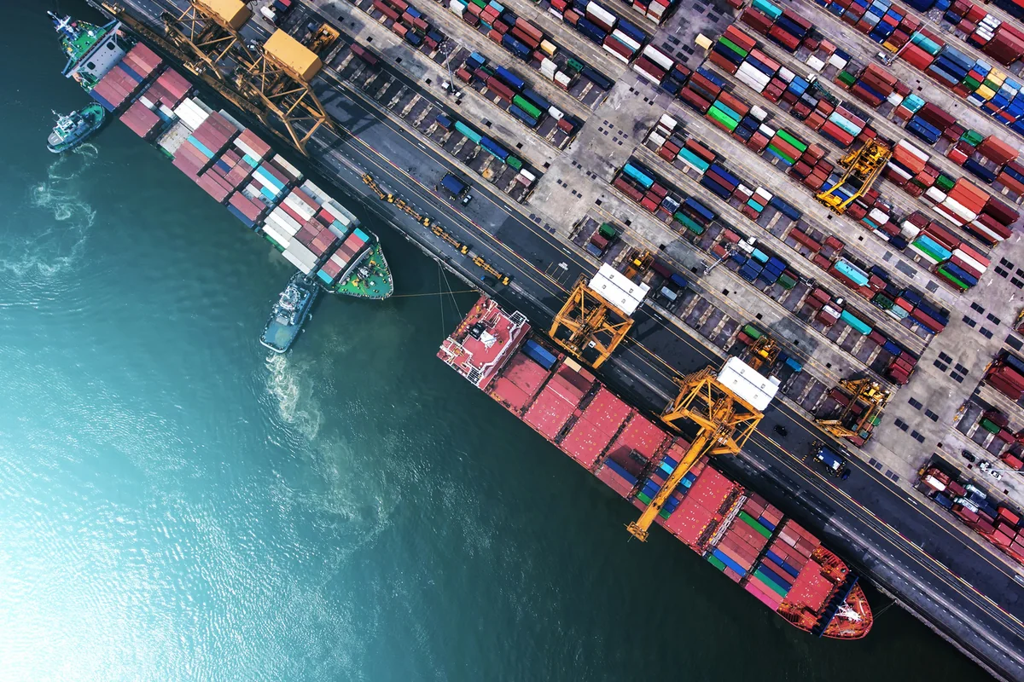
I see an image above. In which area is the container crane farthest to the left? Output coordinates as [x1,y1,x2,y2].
[172,0,270,106]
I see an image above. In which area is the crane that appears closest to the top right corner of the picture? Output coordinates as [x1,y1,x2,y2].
[812,137,894,215]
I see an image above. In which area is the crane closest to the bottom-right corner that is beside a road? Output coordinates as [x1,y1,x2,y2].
[814,373,903,440]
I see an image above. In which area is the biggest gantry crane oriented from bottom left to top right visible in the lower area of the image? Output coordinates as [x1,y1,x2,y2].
[625,338,781,542]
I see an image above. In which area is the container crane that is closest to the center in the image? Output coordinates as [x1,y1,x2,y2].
[544,248,654,373]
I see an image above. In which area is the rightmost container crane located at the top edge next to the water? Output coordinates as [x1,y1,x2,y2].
[240,24,341,160]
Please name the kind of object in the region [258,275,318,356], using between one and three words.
boat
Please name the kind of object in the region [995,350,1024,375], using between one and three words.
shipping container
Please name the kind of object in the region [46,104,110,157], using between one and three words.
boat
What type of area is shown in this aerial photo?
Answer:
port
